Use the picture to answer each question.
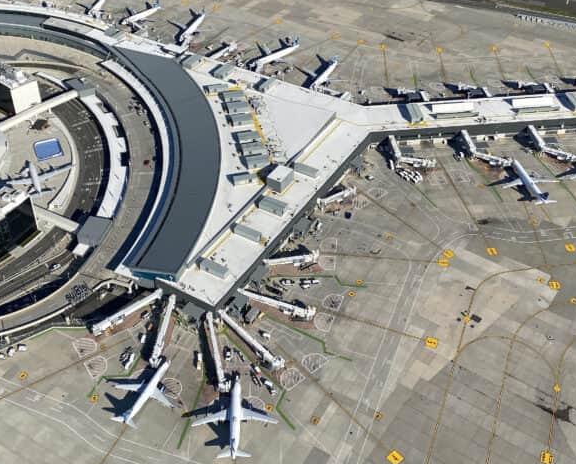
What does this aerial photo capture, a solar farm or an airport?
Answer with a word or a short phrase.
airport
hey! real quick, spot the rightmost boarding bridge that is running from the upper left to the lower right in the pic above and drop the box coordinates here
[528,128,576,168]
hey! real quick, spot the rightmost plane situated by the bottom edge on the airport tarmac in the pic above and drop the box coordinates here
[193,377,277,460]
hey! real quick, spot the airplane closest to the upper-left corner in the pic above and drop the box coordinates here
[83,0,115,12]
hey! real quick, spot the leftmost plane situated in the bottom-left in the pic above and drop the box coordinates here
[113,363,178,429]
